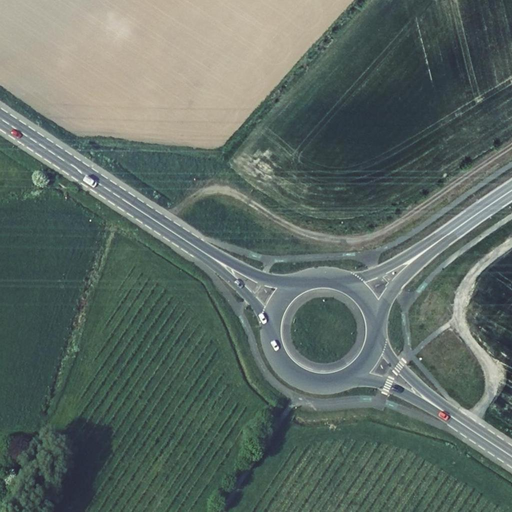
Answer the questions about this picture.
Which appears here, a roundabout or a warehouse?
roundabout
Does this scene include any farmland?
Yes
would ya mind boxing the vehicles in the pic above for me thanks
[10,128,21,137]
[234,278,244,288]
[392,384,404,392]
[439,411,450,420]
[82,174,97,186]
[270,340,278,350]
[258,312,266,324]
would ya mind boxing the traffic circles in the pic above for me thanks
[260,268,386,394]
